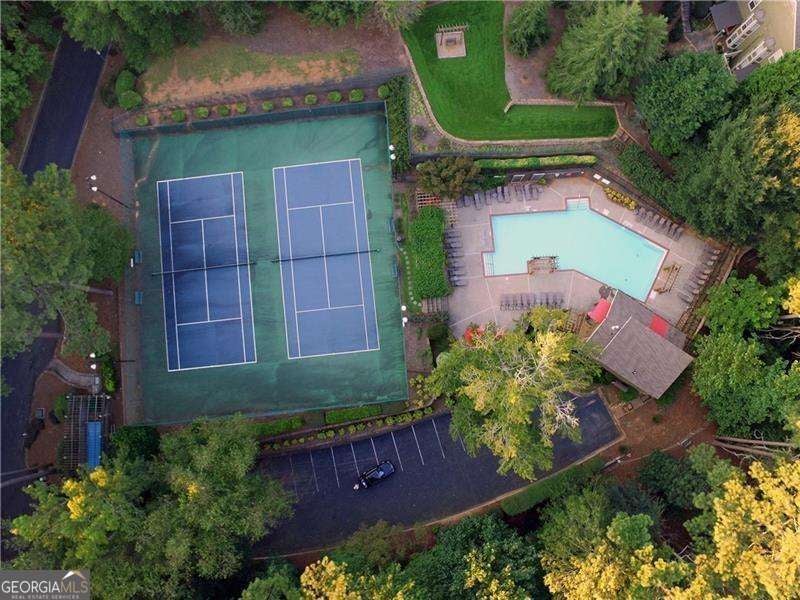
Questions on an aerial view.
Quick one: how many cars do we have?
1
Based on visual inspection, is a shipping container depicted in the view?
No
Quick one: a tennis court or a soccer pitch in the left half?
tennis court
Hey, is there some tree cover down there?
Yes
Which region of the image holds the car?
bottom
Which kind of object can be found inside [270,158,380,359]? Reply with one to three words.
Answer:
tennis court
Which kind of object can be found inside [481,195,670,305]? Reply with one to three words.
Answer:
swimming pool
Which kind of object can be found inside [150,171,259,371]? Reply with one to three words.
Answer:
tennis court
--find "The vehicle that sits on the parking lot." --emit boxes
[357,462,398,492]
